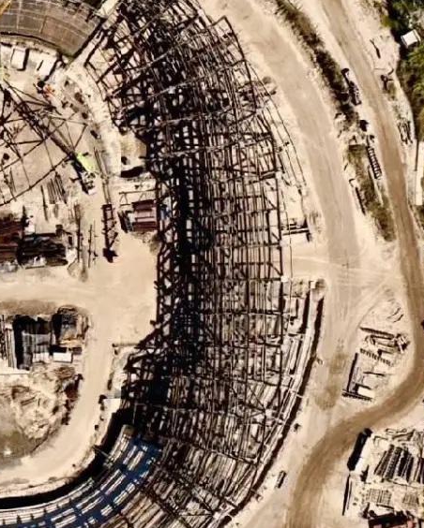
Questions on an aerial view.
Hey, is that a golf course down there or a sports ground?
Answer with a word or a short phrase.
sports ground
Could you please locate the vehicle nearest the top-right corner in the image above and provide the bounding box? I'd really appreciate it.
[371,25,394,46]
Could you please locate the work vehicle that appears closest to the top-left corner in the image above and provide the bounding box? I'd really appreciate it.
[31,89,55,102]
